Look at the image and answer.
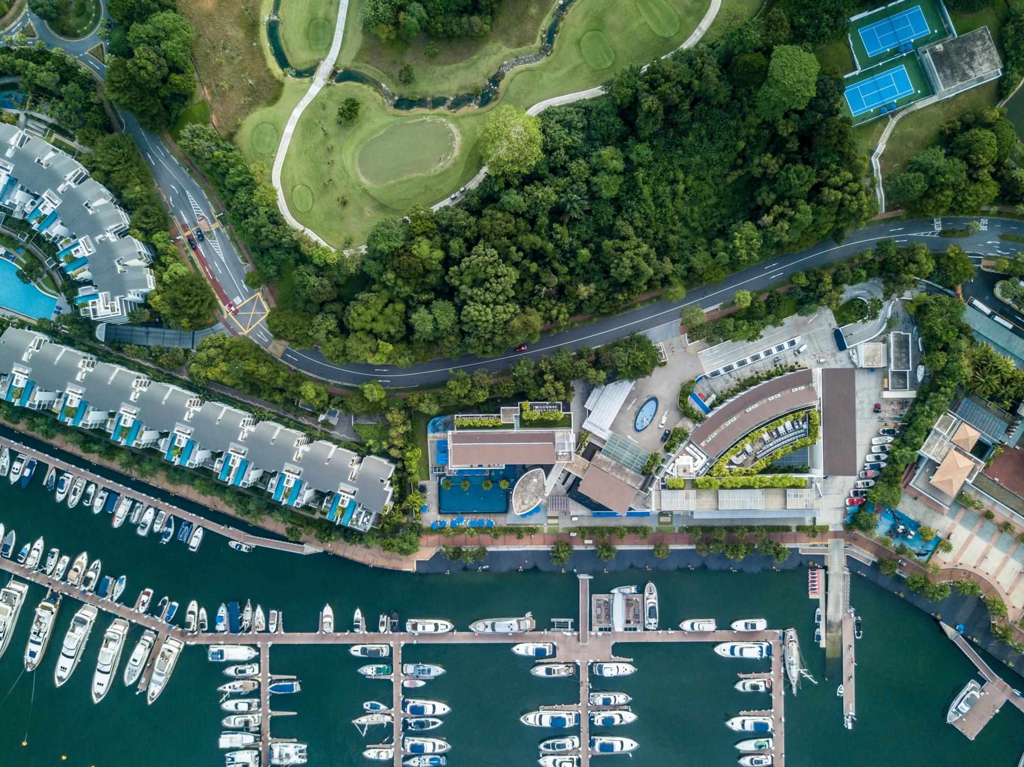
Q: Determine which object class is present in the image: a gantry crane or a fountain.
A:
fountain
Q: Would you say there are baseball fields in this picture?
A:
No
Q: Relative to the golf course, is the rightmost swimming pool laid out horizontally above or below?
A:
below it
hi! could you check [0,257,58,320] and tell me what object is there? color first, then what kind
blue swimming pool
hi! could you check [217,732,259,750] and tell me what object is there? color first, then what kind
white boat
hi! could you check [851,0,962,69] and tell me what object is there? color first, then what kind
blue tennis court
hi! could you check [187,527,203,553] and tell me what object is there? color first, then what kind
white boat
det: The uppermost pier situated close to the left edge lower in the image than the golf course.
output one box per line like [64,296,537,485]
[0,437,255,547]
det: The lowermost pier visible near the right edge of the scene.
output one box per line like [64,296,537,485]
[952,670,1024,740]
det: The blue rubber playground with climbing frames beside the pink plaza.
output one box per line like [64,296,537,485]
[866,502,941,563]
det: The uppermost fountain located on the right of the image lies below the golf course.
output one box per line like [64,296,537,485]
[634,397,658,432]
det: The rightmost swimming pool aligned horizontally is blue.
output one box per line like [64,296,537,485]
[438,465,543,514]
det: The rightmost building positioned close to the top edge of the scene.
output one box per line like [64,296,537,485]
[915,26,1002,101]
